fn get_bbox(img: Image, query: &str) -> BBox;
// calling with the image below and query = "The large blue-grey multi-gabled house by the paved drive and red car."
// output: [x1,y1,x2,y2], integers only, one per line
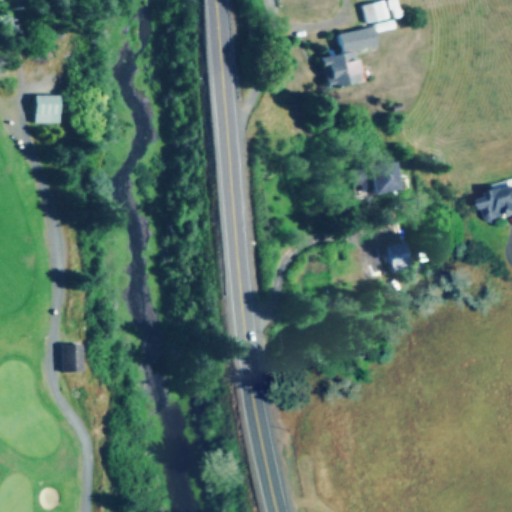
[474,178,512,224]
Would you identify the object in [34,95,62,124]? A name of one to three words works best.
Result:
barn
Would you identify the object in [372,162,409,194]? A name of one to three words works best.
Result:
house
